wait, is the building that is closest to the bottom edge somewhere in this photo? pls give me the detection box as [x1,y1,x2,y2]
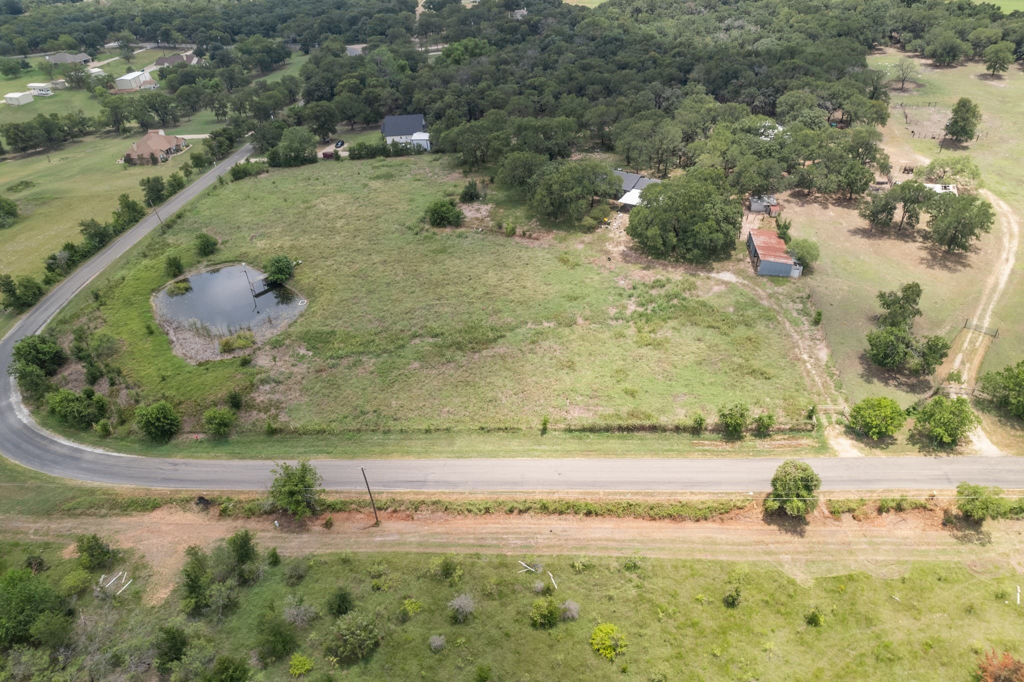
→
[746,229,806,276]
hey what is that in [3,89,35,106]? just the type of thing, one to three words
barn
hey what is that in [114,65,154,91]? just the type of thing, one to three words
building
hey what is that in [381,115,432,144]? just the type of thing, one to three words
house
